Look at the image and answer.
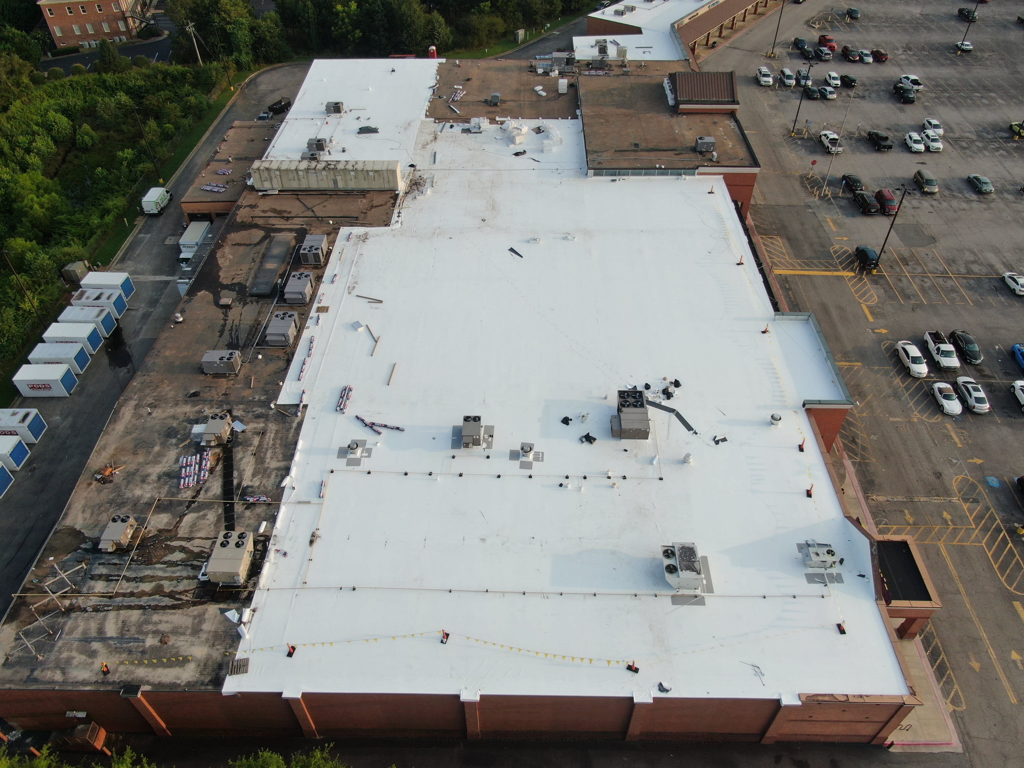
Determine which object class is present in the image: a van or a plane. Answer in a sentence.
Looking from above, you can make out a van.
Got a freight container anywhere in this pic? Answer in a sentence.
Yes, the photo shows a freight container.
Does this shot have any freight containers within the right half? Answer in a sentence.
No, there's no freight container to be seen within the right half.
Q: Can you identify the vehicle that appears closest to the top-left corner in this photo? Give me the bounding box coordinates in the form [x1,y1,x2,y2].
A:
[142,183,174,213]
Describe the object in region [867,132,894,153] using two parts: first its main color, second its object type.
black truck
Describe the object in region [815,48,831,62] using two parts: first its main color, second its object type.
gray car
